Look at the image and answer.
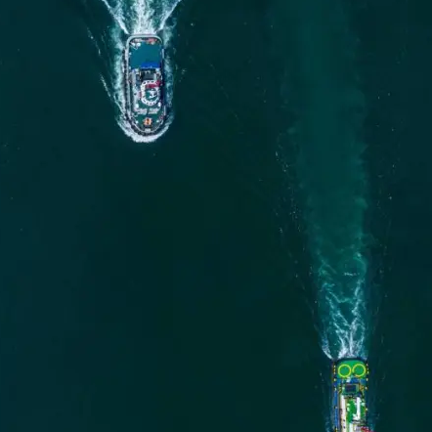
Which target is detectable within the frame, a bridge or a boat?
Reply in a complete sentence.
I can see a boat in this picture.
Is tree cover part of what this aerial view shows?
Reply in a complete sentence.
No, the scene doesn't show any tree cover.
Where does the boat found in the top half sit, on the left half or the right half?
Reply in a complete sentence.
It is on the left.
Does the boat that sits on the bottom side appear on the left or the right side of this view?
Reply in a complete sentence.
The boat that sits on the bottom side appears in the right half of the scene.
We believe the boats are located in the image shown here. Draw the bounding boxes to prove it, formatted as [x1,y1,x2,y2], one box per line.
[331,360,376,432]
[124,37,165,139]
